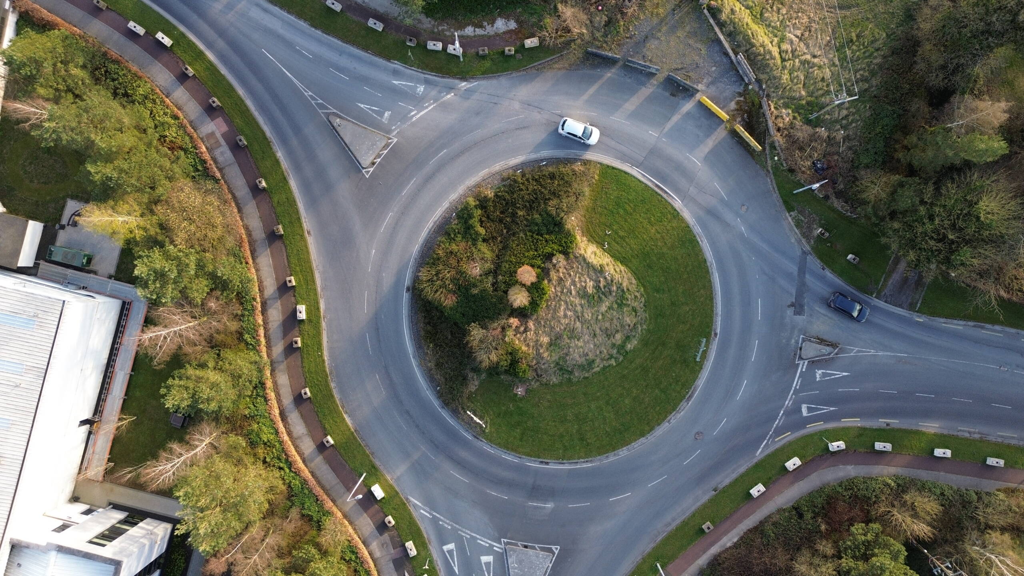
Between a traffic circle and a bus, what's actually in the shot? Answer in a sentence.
Looking from above, you can make out a traffic circle.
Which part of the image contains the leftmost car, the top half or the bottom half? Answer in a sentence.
Seen from above, the leftmost car lies in the top half of the view.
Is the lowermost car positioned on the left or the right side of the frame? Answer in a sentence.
The lowermost car is on the right side of the image.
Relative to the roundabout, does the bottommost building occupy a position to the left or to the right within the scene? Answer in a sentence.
Looking at the picture, you'll find the bottommost building to the left of the roundabout.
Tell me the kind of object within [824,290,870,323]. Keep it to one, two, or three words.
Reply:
car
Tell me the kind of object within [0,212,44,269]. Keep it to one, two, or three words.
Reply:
shed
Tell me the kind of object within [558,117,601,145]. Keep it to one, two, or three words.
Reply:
car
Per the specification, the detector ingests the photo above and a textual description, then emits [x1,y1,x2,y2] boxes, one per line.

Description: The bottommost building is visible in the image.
[0,501,173,576]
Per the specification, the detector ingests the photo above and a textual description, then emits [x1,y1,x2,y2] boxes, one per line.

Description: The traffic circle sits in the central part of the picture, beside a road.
[331,78,793,540]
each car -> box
[558,117,601,145]
[824,290,870,323]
